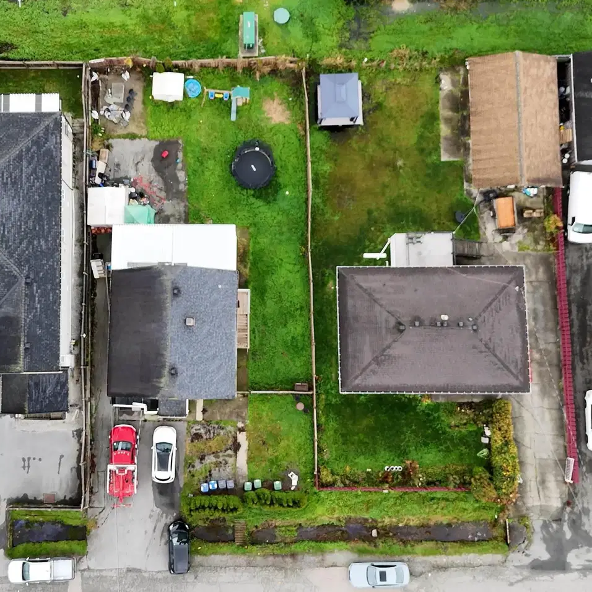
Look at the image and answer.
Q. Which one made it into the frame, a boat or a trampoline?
trampoline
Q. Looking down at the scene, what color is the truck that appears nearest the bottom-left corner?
white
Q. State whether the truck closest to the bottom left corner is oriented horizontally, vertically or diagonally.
horizontally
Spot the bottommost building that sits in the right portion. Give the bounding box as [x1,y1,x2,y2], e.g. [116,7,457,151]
[335,233,532,394]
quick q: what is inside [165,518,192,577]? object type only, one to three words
car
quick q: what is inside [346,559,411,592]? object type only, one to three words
car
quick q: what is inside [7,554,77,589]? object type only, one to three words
truck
